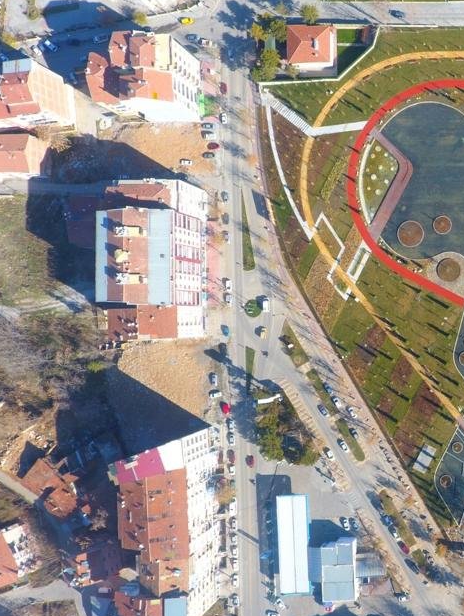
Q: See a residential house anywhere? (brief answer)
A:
Yes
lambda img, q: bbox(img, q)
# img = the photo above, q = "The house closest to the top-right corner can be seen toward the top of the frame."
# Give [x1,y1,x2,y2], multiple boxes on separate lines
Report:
[287,24,335,68]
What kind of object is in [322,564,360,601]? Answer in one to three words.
building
